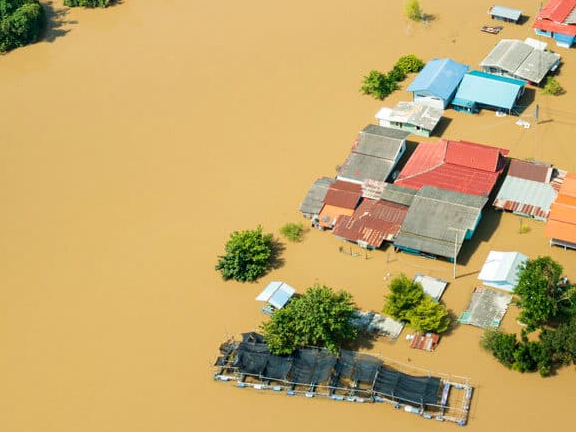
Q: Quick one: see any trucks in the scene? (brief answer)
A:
No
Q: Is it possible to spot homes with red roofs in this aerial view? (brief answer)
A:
Yes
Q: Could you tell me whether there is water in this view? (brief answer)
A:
Yes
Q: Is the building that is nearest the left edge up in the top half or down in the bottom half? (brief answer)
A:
bottom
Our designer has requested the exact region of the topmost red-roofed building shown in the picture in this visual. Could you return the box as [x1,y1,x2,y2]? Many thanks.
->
[533,0,576,48]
